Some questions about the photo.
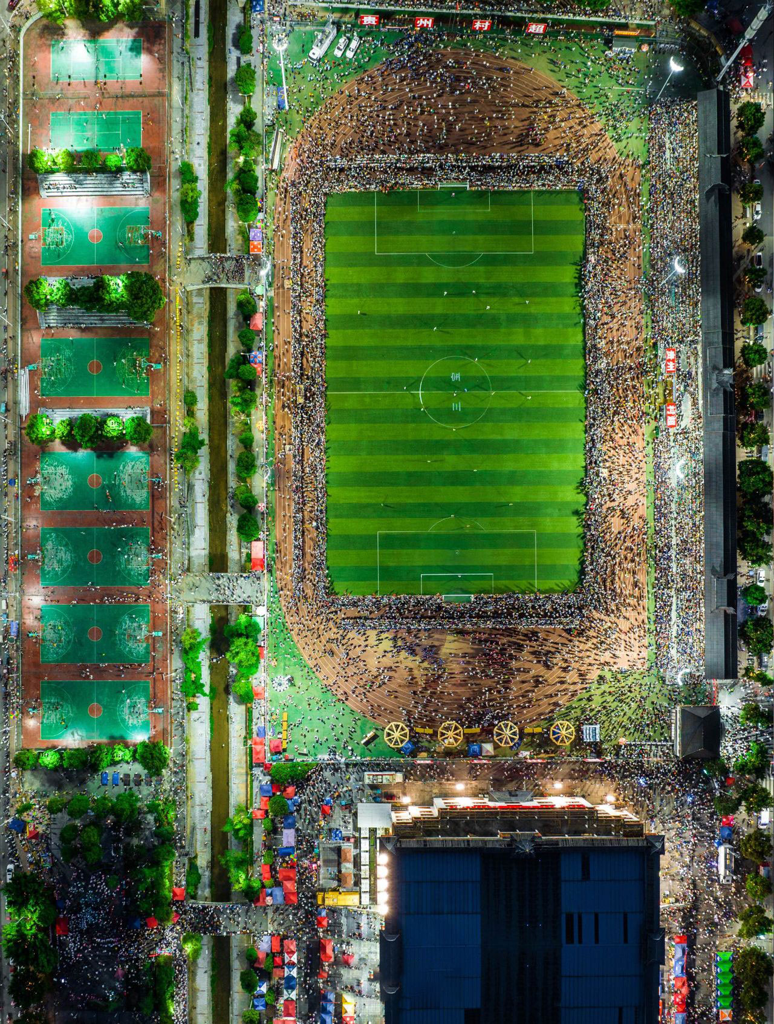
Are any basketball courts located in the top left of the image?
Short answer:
Yes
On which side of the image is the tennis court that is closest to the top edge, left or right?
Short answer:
left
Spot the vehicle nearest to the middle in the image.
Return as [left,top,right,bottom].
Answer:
[360,733,379,751]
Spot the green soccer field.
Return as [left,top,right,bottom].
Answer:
[325,190,587,595]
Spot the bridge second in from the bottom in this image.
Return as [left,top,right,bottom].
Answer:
[184,572,245,604]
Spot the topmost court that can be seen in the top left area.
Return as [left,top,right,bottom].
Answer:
[50,33,142,83]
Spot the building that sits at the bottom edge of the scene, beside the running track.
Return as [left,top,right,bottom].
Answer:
[379,798,665,1024]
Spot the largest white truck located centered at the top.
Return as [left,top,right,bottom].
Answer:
[308,9,339,65]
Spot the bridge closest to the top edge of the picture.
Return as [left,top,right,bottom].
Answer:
[184,254,245,290]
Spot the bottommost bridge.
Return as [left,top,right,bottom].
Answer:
[184,902,245,937]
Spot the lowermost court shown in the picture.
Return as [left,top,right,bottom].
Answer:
[40,680,150,739]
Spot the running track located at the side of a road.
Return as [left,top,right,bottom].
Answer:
[275,50,647,728]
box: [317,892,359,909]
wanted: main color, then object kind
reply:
yellow vehicle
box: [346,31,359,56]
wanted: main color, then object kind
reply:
white vehicle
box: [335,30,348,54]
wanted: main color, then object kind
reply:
white vehicle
